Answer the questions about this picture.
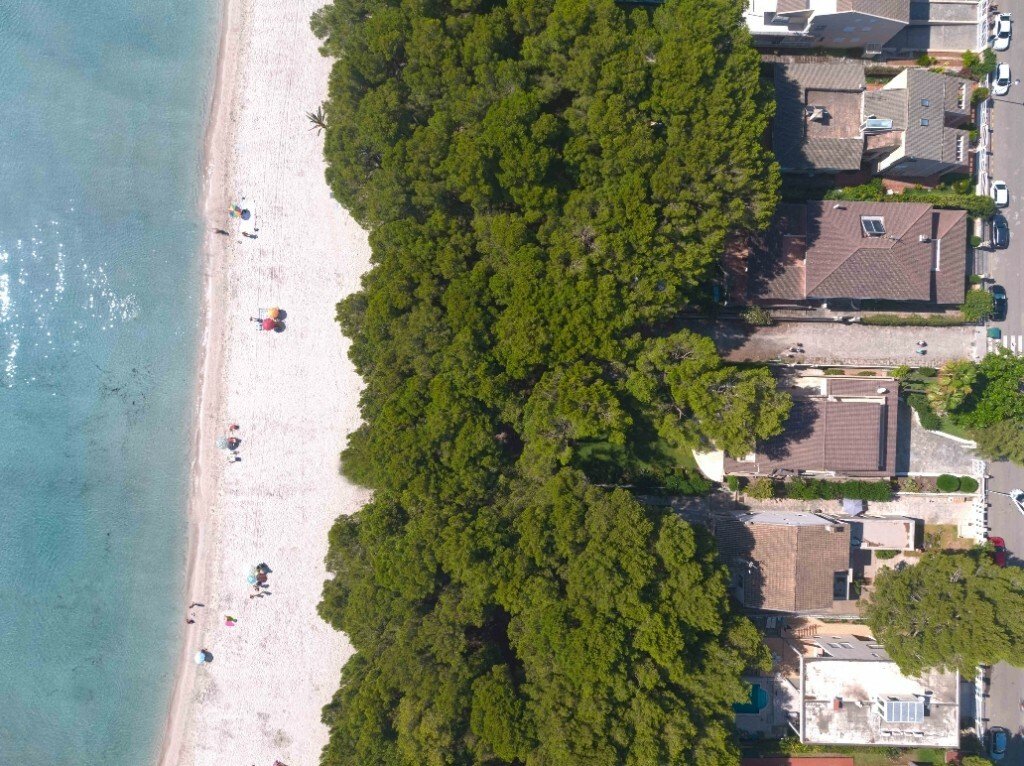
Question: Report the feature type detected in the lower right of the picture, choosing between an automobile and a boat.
automobile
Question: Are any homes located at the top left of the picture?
No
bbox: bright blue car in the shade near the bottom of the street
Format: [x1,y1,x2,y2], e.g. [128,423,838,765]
[990,727,1012,761]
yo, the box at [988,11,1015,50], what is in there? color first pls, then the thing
white car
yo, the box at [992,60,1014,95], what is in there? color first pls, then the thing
white car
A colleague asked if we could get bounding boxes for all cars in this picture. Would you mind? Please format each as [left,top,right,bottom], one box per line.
[988,537,1010,570]
[992,60,1014,95]
[989,285,1010,320]
[991,213,1013,249]
[988,11,1015,50]
[990,727,1012,761]
[992,179,1013,207]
